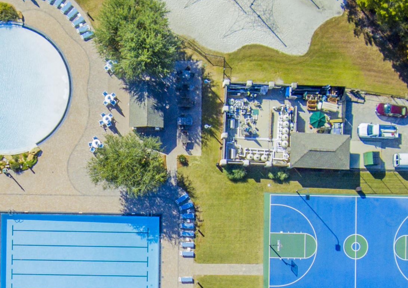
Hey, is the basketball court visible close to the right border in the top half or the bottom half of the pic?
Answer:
bottom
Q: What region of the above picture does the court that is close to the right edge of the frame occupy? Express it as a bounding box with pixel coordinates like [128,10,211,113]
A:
[263,192,408,288]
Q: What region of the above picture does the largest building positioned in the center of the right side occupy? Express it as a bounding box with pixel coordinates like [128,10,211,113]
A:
[290,133,350,168]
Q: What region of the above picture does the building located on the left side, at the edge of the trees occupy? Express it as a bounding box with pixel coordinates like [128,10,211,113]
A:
[131,78,163,131]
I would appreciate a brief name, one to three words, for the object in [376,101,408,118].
car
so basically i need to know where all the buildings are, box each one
[131,78,163,131]
[290,133,350,168]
